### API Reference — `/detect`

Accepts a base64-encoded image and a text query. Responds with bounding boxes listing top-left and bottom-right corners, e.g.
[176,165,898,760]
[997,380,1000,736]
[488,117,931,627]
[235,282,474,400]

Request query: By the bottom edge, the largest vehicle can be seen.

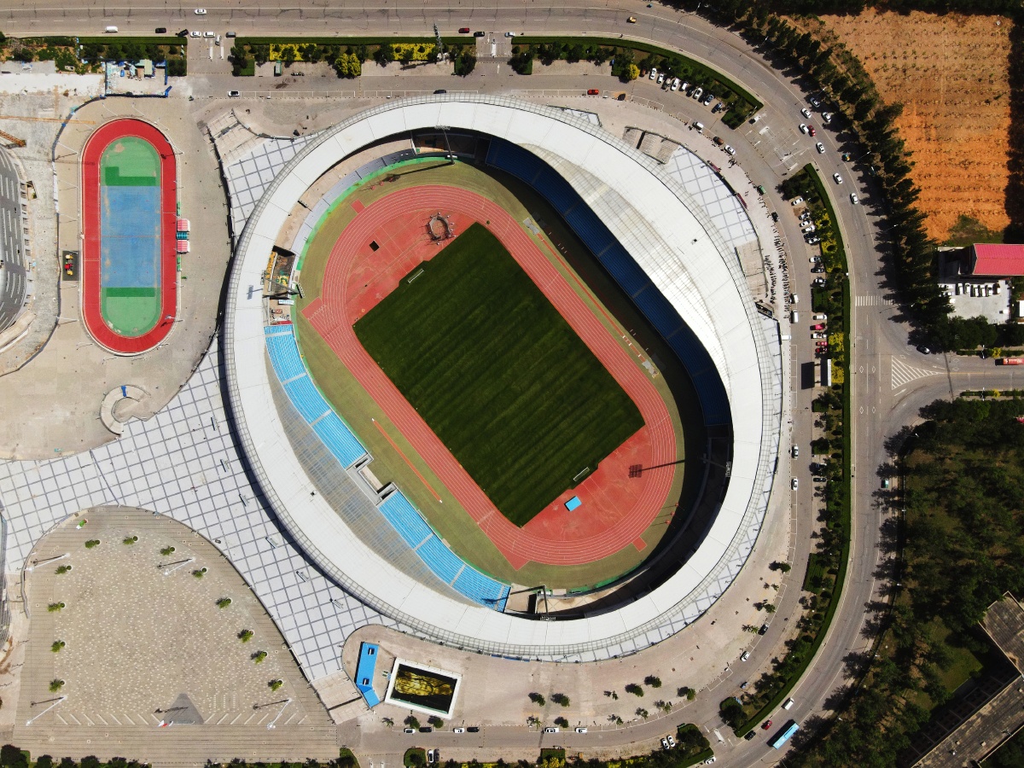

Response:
[772,722,803,752]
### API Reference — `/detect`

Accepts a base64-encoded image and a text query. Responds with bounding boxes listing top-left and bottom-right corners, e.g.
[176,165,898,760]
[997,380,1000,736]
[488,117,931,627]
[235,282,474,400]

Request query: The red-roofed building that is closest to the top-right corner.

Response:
[956,243,1024,278]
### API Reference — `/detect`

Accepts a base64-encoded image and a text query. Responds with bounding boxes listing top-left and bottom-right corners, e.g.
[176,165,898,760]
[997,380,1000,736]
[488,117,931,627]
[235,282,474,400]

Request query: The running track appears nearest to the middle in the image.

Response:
[304,181,677,580]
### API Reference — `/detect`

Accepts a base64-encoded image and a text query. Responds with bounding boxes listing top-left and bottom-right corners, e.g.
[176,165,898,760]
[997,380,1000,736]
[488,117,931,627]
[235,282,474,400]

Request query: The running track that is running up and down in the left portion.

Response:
[79,115,180,357]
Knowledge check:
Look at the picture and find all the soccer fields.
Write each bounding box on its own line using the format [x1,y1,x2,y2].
[354,222,644,526]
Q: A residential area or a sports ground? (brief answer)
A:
sports ground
